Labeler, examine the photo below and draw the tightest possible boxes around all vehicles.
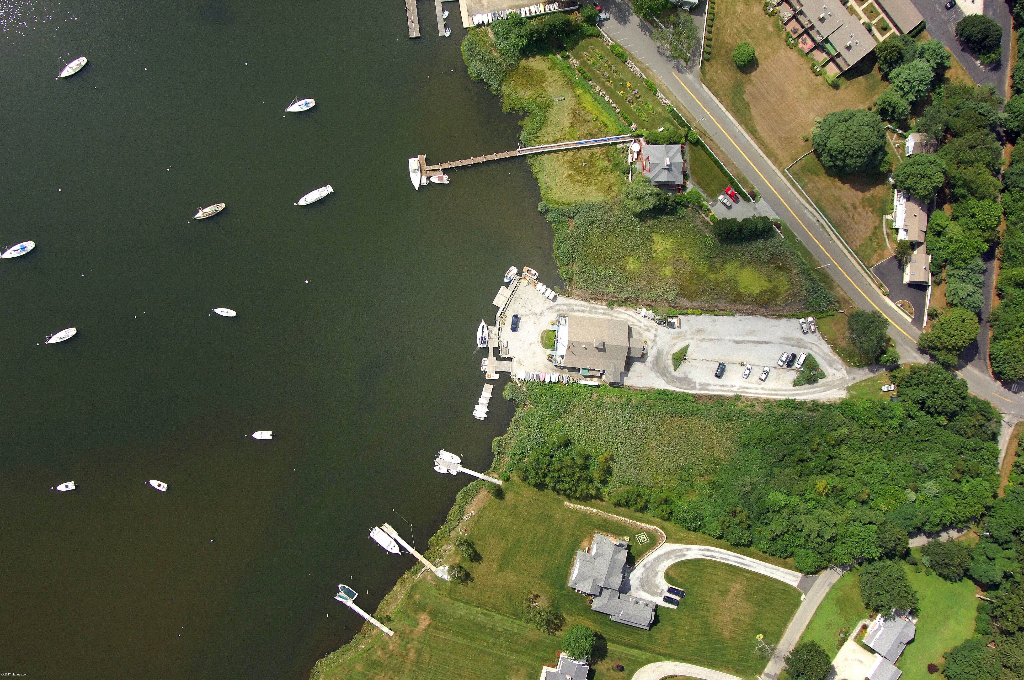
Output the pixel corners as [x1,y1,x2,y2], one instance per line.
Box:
[944,0,957,11]
[785,352,797,368]
[718,195,732,209]
[666,586,686,598]
[807,317,816,333]
[596,12,610,21]
[662,595,680,606]
[510,314,519,331]
[795,352,807,368]
[798,318,808,334]
[725,187,740,203]
[777,351,789,367]
[714,362,726,379]
[742,364,752,378]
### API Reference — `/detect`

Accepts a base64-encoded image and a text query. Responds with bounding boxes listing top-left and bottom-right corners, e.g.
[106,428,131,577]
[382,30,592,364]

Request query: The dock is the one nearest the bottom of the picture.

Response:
[336,592,394,636]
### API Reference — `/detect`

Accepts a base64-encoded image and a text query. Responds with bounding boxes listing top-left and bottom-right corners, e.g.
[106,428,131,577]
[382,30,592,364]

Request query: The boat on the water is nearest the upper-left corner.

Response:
[58,57,89,77]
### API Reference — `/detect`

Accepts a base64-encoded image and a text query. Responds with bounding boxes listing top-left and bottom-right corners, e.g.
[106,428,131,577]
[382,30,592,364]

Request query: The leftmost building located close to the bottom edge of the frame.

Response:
[540,652,589,680]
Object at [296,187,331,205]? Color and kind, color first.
white boat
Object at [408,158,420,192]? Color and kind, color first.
white boat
